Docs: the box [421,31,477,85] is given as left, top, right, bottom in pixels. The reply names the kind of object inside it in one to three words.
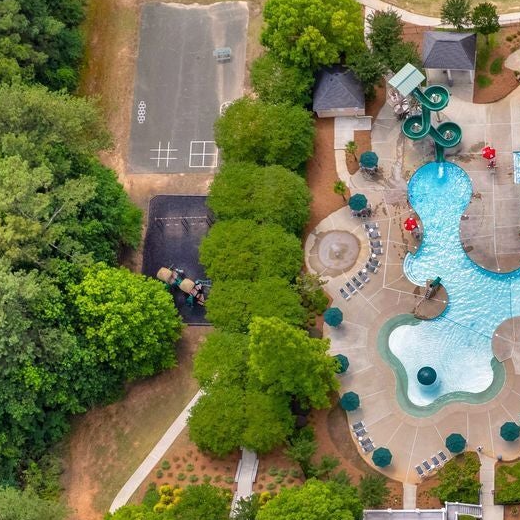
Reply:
building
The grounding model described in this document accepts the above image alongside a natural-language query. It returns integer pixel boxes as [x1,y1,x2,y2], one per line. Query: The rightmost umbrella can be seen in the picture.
[500,421,520,442]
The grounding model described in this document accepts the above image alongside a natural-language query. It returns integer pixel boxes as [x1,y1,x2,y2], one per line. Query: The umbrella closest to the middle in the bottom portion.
[323,307,344,327]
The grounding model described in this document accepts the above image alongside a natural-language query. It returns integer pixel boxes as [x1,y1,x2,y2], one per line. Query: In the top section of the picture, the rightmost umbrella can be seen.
[482,147,496,161]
